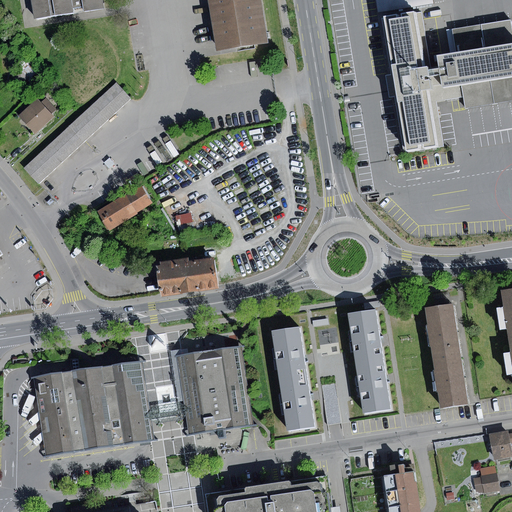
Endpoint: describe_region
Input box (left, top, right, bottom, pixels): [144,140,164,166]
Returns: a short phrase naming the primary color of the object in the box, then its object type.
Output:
white vehicle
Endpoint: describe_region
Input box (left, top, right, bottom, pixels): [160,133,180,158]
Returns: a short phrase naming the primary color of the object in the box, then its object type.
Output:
white truck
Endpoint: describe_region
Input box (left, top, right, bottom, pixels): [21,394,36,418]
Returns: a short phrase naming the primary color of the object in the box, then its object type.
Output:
white vehicle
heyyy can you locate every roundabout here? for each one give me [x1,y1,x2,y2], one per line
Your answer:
[306,218,394,296]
